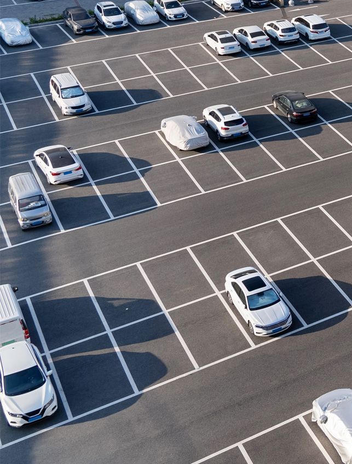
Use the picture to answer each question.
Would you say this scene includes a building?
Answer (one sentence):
No, no building can be seen from above.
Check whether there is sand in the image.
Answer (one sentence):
No, the picture contains no sand.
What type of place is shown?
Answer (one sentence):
What you see here is a parking lot.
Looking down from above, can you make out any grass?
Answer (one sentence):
No, the scene doesn't show any grass.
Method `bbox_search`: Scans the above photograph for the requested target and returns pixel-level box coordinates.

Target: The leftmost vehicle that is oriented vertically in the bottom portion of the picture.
[0,287,26,351]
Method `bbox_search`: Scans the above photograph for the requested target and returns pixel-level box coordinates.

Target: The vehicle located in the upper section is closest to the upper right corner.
[291,14,329,42]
